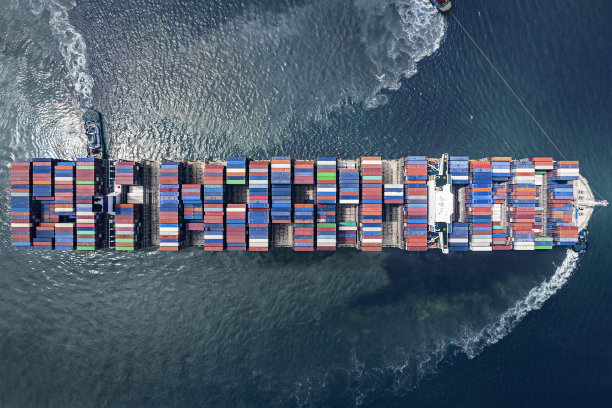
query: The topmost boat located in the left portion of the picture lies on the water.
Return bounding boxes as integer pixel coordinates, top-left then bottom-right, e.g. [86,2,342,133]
[84,106,106,159]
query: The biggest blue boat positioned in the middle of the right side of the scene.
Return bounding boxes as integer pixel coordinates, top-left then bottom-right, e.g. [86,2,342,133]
[570,225,592,253]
